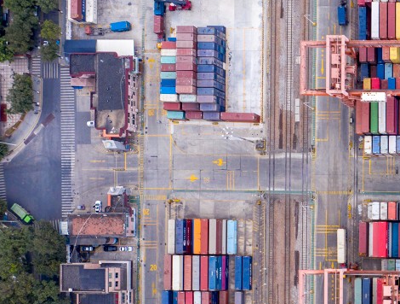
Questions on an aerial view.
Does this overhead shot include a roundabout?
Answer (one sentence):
No, there isn't any roundabout down there.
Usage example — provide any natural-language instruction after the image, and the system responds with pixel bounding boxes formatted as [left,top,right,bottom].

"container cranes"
[301,34,400,118]
[300,258,400,304]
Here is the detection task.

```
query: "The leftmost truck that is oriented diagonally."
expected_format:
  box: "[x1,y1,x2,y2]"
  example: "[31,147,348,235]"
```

[6,204,33,225]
